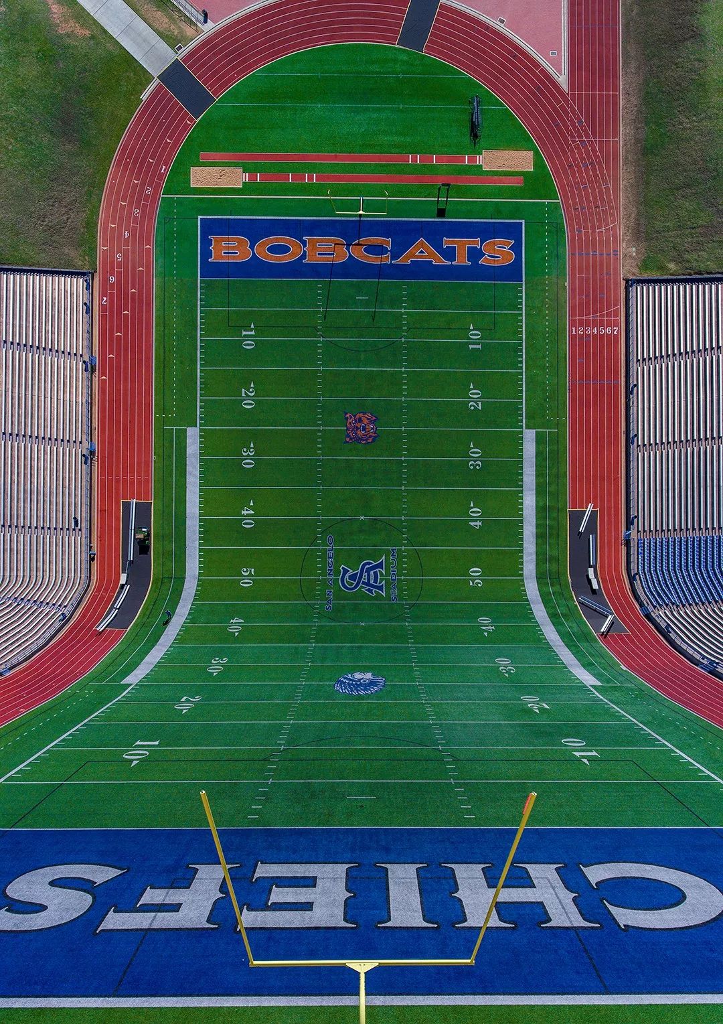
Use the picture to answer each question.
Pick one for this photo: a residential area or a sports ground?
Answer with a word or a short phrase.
sports ground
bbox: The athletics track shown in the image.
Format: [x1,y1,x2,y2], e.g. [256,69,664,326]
[0,0,723,730]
